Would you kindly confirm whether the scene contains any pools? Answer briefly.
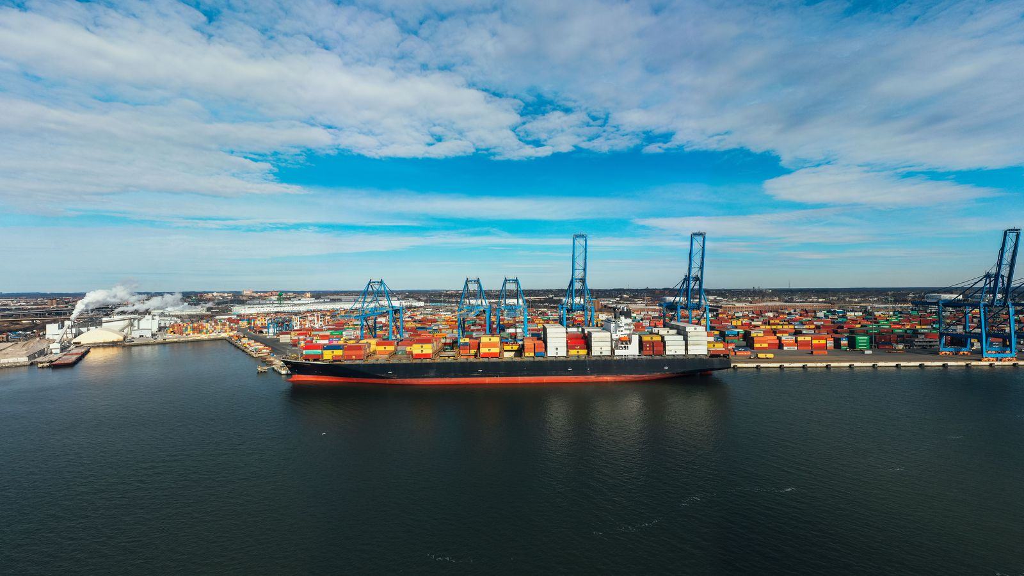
No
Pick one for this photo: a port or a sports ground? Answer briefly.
port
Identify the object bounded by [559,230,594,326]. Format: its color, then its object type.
blue container crane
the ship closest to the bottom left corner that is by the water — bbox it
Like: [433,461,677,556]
[48,344,96,368]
